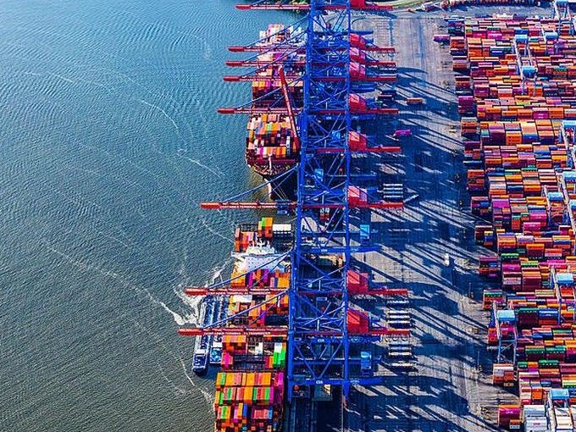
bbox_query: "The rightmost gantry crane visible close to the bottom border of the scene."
[548,385,575,432]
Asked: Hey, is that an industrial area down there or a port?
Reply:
port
